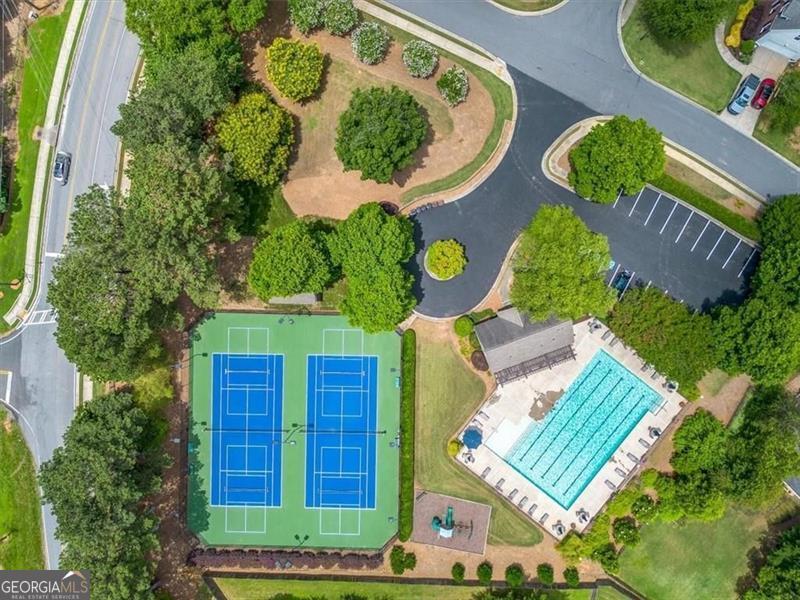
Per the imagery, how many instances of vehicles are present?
four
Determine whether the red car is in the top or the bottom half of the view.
top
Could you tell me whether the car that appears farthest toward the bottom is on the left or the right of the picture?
right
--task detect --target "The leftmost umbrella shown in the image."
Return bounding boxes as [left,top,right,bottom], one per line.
[462,427,482,447]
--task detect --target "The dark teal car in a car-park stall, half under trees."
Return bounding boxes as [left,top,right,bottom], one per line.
[612,269,634,299]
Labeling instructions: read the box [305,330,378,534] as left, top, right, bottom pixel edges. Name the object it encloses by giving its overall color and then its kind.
blue tennis court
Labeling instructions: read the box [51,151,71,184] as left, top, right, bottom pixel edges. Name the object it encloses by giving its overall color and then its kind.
gray car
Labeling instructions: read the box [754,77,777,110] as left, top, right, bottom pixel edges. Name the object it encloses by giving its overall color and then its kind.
red car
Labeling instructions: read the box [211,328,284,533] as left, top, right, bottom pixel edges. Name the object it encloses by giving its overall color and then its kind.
blue tennis court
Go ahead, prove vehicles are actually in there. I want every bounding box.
[612,269,634,299]
[730,73,762,113]
[51,151,71,184]
[754,77,777,110]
